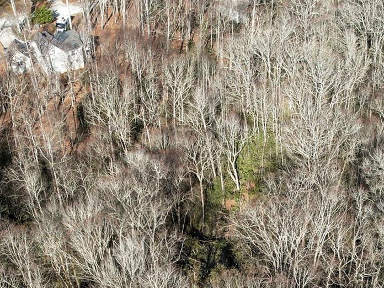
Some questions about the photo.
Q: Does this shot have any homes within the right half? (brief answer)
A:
No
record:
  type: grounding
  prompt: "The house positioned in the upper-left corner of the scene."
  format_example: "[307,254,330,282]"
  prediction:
[8,19,98,78]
